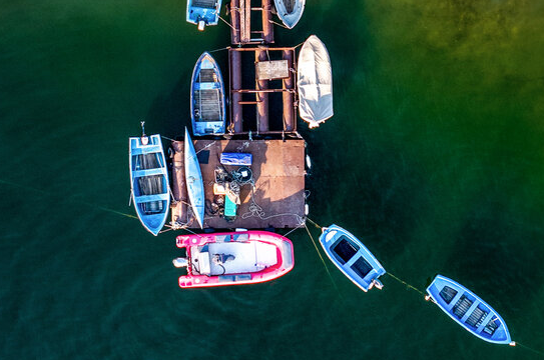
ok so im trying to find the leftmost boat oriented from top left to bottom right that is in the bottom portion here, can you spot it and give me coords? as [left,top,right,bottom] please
[321,226,387,292]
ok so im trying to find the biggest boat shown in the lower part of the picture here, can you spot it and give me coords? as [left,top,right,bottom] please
[175,231,294,290]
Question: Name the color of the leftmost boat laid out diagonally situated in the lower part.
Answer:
blue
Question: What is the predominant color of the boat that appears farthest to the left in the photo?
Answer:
blue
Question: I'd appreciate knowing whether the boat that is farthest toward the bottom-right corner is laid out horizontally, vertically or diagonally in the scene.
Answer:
diagonally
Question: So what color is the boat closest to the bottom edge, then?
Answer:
blue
